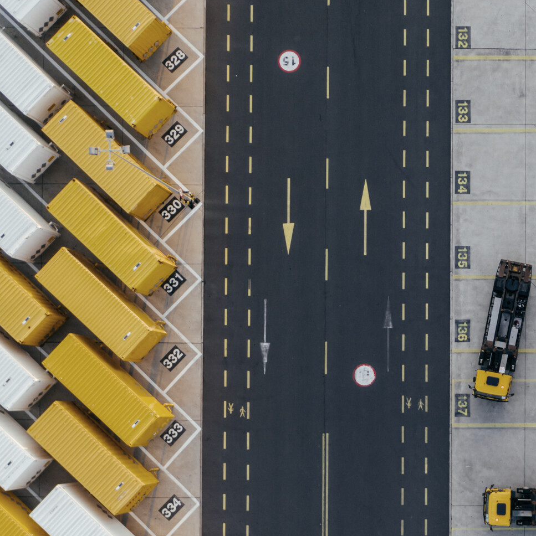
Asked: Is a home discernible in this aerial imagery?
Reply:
No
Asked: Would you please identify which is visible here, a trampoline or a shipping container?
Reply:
shipping container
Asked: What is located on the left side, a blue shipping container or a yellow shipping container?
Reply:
yellow shipping container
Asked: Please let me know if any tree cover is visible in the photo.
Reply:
No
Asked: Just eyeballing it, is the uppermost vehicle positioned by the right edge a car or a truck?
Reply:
truck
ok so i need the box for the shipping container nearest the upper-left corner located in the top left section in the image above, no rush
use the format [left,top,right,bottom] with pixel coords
[0,0,66,37]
